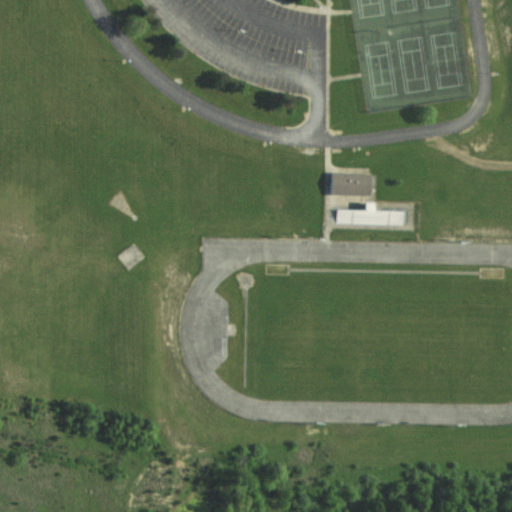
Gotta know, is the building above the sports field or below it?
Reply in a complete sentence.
The building is located above the sports field in this view.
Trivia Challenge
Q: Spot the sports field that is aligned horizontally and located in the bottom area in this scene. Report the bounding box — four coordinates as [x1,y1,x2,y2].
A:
[213,262,512,403]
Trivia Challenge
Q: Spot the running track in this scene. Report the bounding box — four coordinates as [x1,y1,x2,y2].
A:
[182,238,512,424]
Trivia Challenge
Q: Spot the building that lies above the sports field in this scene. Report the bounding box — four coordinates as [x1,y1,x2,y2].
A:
[330,174,372,195]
